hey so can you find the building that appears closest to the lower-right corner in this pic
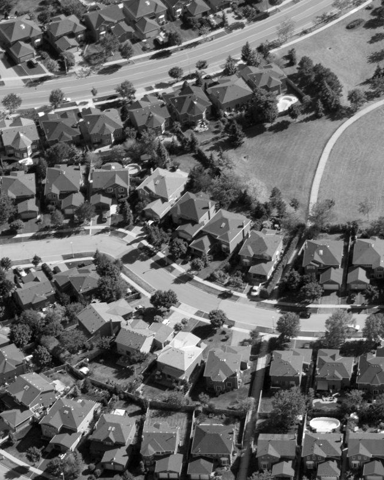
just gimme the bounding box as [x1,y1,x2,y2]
[347,428,384,480]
